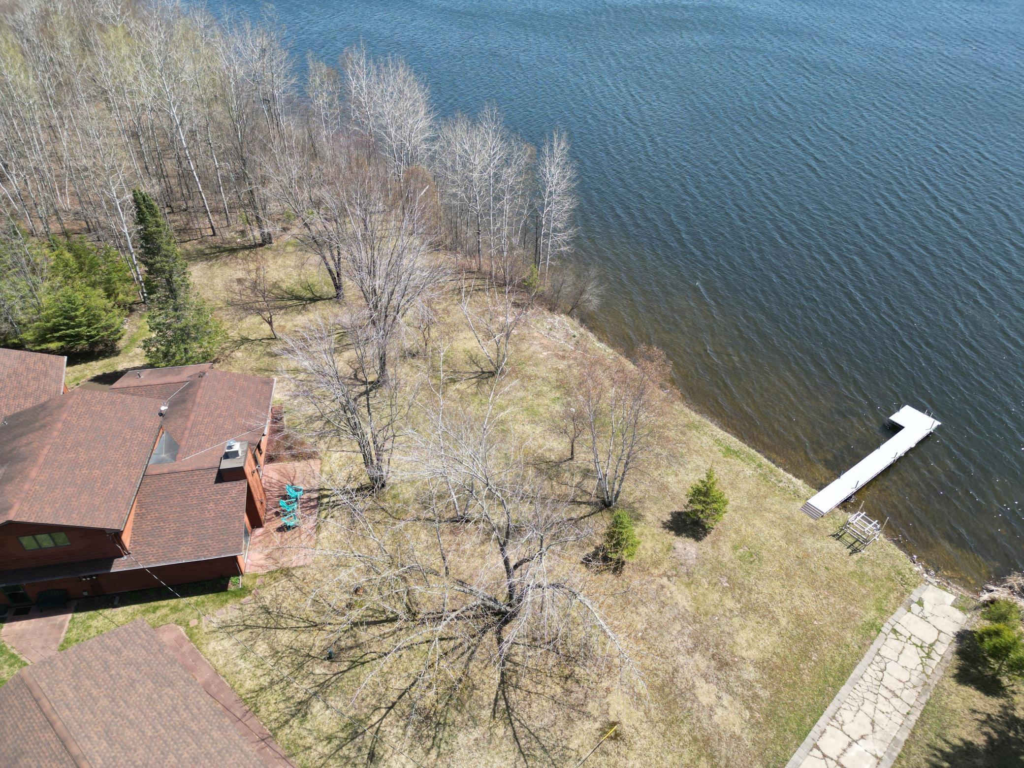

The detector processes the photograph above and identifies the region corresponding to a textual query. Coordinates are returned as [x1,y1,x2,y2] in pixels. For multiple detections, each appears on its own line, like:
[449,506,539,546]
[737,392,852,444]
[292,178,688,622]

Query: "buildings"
[0,619,268,768]
[0,363,275,606]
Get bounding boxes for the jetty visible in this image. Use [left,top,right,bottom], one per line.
[798,404,941,520]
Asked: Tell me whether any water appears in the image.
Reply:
Yes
